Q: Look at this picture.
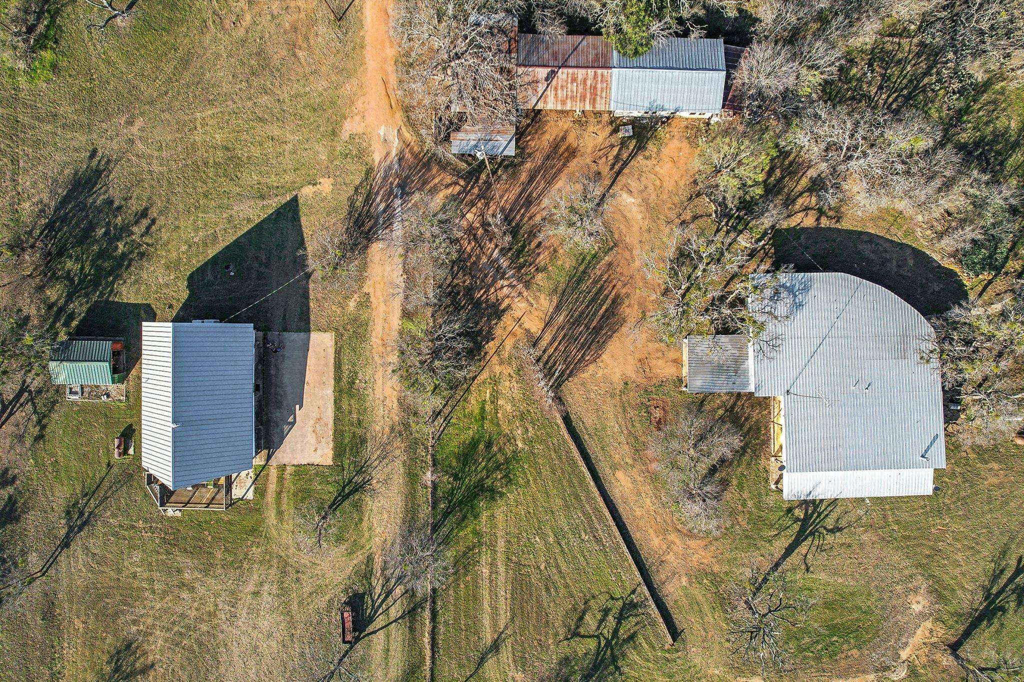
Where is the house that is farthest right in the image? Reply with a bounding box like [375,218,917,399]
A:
[745,272,942,500]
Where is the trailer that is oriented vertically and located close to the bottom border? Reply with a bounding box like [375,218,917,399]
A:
[338,602,356,652]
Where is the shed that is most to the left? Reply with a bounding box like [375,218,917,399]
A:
[49,337,135,385]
